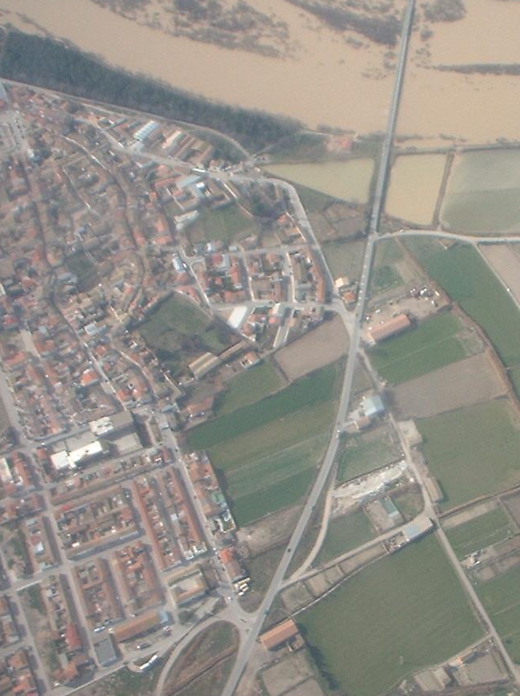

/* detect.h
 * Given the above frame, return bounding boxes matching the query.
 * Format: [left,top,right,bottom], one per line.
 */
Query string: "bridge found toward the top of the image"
[388,0,415,138]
